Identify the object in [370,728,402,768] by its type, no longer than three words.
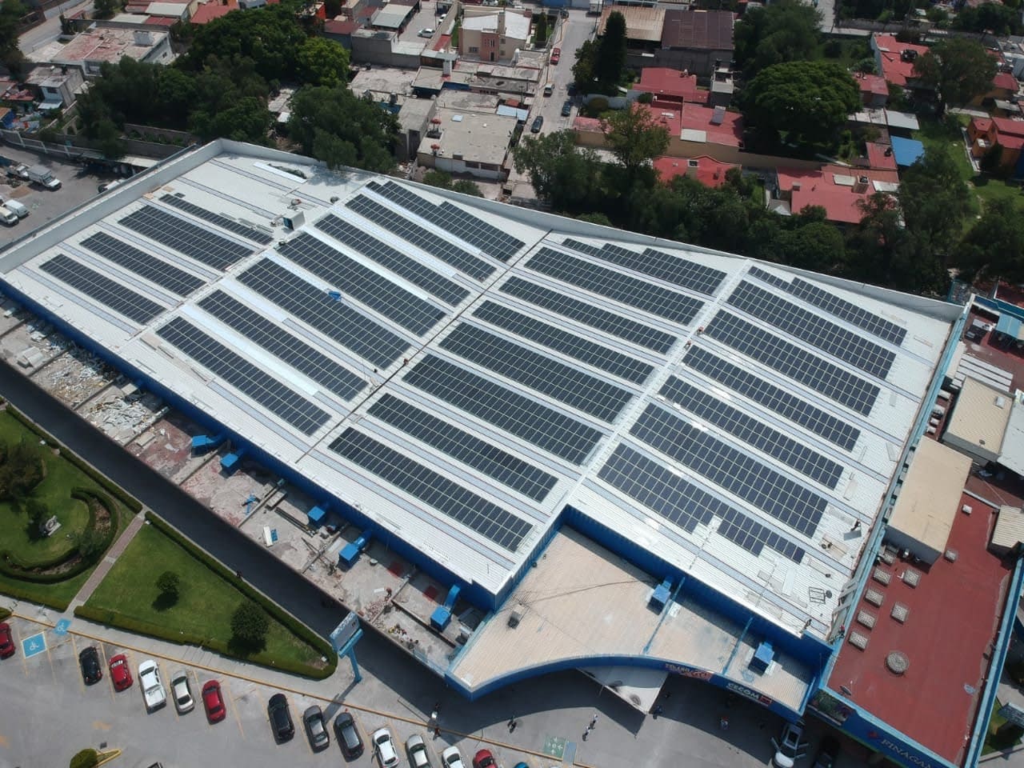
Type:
car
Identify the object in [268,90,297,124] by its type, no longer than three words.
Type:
house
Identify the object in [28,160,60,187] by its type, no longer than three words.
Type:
truck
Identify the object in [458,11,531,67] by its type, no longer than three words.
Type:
house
